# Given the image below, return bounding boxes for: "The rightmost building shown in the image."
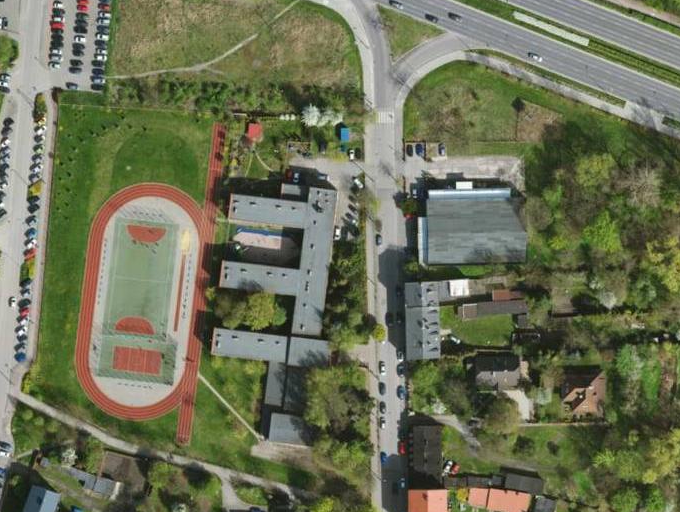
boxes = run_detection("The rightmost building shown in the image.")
[561,365,605,420]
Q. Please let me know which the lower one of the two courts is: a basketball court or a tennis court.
basketball court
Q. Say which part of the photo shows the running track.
left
